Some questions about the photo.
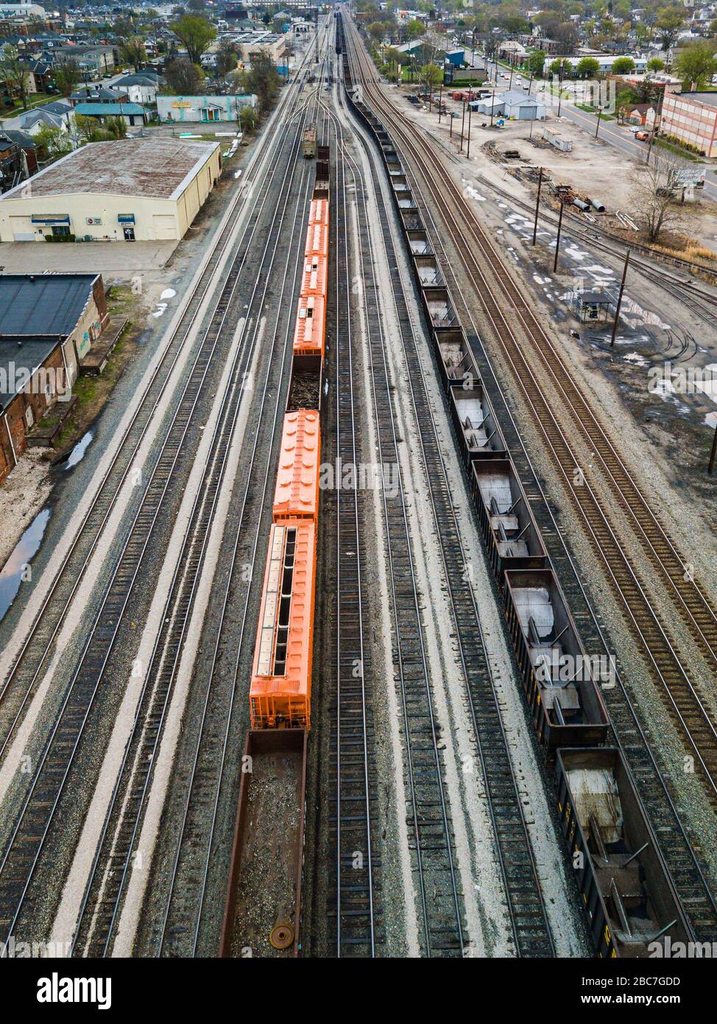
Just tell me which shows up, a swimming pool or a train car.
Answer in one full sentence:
I can see a train car in this picture.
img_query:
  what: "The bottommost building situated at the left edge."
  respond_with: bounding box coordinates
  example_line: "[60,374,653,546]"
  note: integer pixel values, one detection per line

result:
[0,274,117,487]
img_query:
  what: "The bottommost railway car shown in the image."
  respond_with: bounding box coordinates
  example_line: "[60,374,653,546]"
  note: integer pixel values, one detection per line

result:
[551,748,717,1024]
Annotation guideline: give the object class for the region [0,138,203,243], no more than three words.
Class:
building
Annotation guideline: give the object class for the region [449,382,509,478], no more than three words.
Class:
rail car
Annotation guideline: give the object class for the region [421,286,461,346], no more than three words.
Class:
rail car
